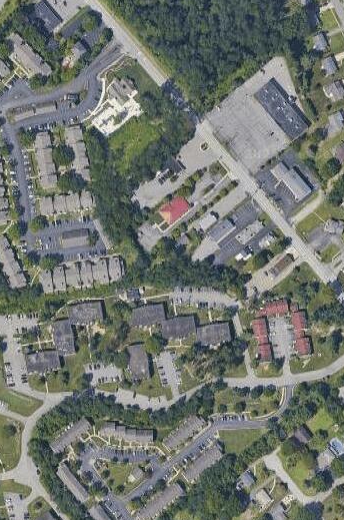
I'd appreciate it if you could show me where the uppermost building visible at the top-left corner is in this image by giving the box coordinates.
[34,0,63,30]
